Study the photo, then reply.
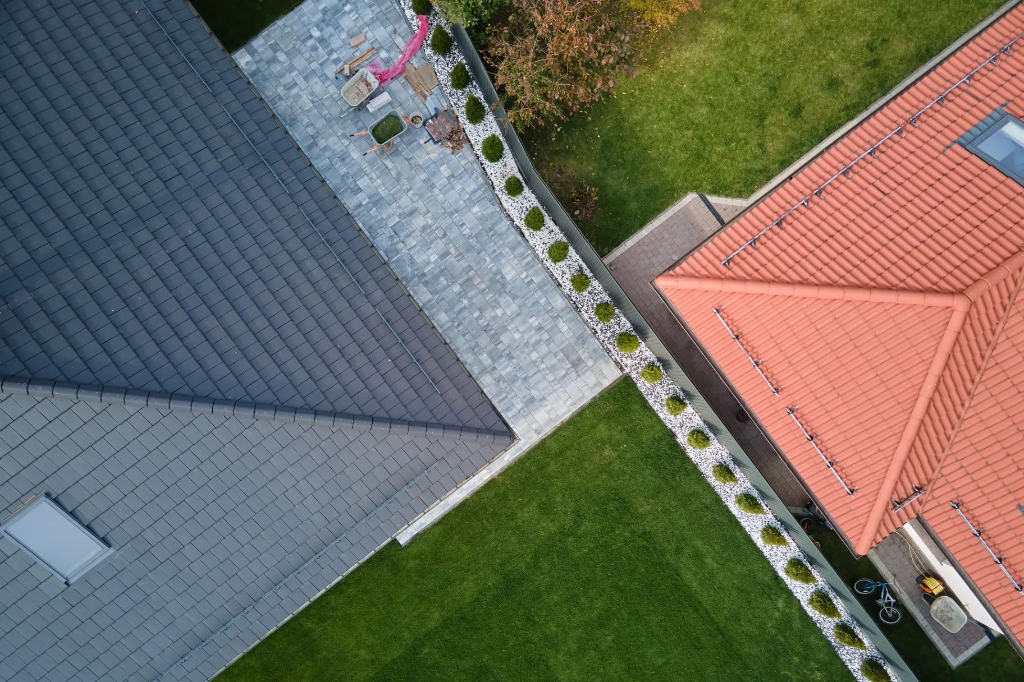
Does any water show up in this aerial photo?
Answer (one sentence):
No, there is no water in the image.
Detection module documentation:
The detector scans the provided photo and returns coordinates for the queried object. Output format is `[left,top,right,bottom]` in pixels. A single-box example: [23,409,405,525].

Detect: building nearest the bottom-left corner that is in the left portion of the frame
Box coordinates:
[0,0,521,682]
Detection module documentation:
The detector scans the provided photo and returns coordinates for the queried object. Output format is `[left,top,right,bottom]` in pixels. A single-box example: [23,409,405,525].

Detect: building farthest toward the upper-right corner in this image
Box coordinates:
[646,0,1024,663]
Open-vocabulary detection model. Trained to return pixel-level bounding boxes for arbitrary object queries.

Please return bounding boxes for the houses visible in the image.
[646,0,1024,663]
[0,0,521,682]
